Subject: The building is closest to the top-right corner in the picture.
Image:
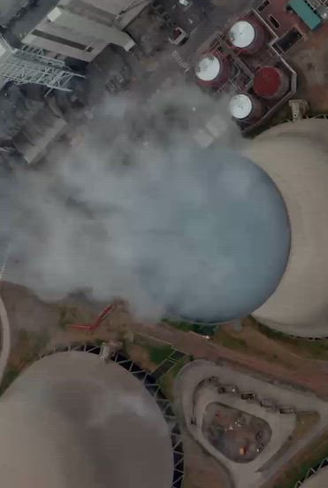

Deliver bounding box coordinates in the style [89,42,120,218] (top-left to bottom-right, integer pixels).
[288,0,324,31]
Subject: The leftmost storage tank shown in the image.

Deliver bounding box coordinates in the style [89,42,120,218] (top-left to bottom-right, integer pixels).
[195,54,231,84]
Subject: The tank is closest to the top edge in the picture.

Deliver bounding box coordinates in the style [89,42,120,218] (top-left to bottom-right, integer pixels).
[230,21,266,53]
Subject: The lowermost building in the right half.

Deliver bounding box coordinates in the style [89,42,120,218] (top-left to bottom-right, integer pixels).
[287,95,304,120]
